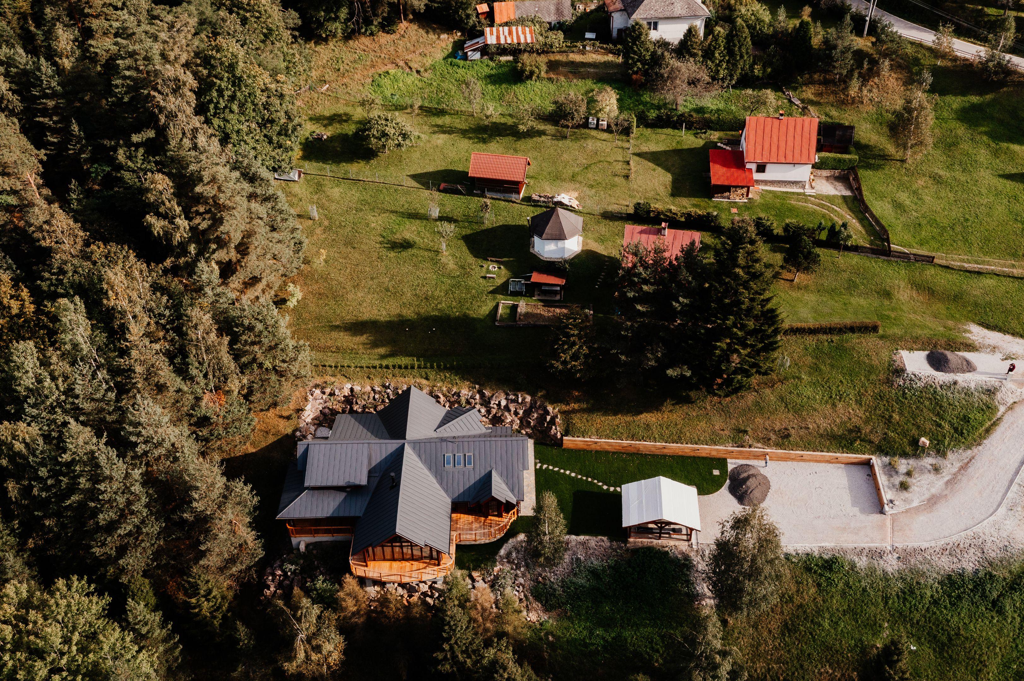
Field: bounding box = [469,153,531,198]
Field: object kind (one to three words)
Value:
barn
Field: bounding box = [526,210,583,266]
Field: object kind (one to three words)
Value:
house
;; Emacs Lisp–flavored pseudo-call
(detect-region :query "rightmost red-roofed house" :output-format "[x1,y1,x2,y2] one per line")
[731,112,817,194]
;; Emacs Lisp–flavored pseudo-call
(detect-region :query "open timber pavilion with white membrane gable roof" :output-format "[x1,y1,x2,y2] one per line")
[620,476,703,544]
